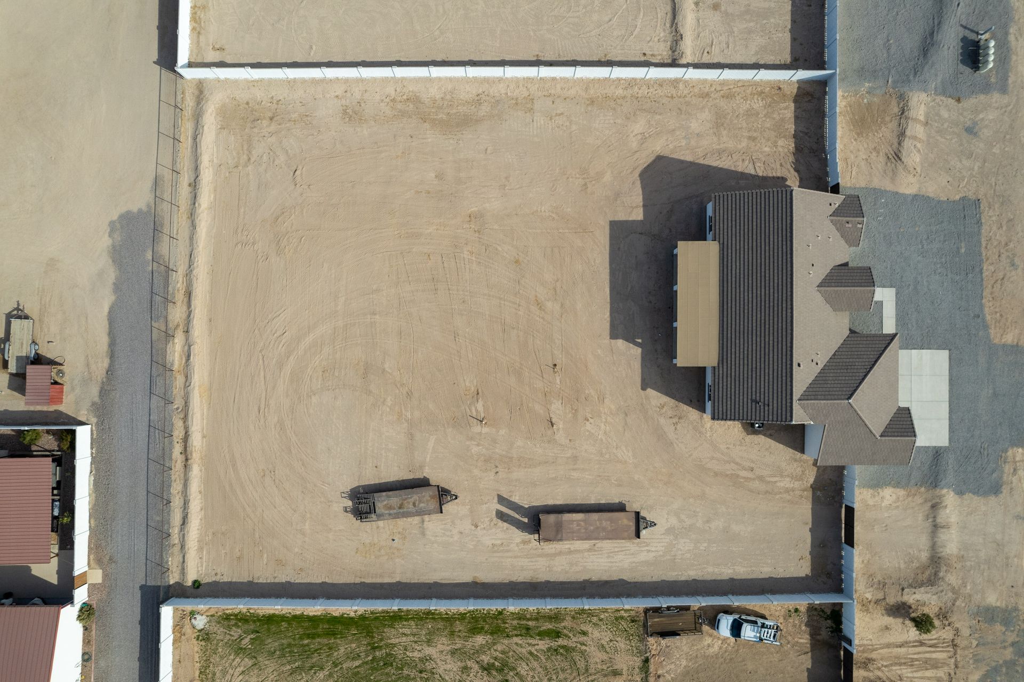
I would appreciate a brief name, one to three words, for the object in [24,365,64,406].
shed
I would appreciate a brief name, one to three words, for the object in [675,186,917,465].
house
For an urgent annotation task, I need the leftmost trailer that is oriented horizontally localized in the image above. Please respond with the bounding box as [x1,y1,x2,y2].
[355,485,458,521]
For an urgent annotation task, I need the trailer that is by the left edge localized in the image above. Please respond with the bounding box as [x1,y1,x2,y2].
[0,305,36,373]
